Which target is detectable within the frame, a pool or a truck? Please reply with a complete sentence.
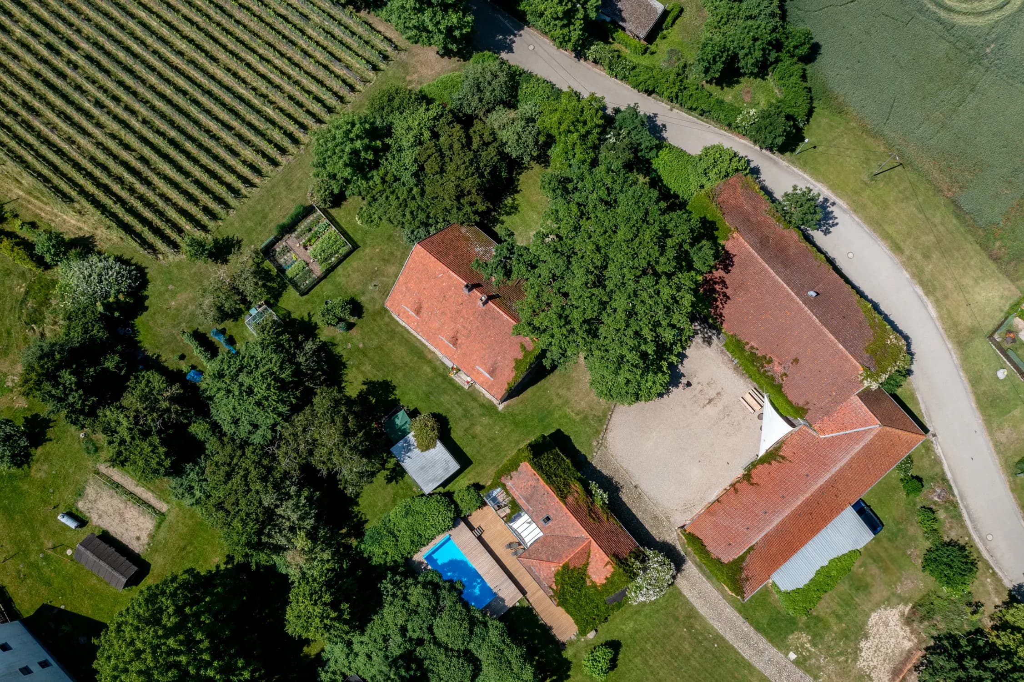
Of the two, only a pool appears.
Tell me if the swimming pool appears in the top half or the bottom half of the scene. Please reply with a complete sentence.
Seen from above, the swimming pool lies in the bottom half of the view.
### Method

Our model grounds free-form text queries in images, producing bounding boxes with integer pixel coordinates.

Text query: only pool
[414,518,523,618]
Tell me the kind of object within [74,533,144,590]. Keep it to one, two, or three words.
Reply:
shed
